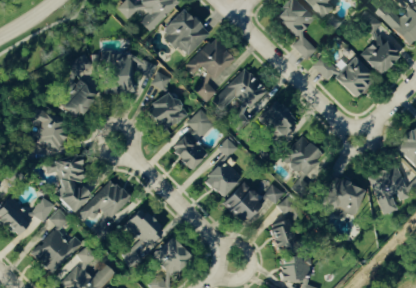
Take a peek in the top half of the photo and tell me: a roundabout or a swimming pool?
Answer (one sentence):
You can see a swimming pool in the top half of the photo.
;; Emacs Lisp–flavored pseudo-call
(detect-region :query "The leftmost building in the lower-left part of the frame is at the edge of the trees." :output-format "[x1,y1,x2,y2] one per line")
[0,198,54,236]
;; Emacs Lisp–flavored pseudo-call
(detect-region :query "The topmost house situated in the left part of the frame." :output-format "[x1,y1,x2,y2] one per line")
[118,0,178,31]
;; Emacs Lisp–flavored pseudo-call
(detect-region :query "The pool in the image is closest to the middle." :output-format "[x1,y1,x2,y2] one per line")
[200,127,224,150]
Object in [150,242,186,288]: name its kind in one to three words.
house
